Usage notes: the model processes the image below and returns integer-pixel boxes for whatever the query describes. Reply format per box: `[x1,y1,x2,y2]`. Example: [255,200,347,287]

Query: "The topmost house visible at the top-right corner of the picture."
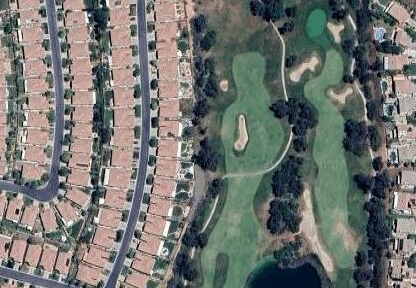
[382,0,416,21]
